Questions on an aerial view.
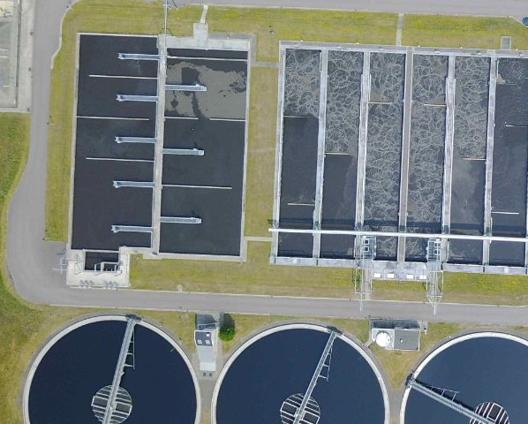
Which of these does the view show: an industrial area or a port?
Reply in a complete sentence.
This looks like an industrial area.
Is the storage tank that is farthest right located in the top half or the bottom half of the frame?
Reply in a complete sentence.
The storage tank that is farthest right is in the bottom half of the image.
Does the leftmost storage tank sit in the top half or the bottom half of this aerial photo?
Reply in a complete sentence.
It is in the bottom half that the leftmost storage tank appears.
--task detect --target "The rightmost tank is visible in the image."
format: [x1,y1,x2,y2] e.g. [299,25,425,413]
[395,326,528,424]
